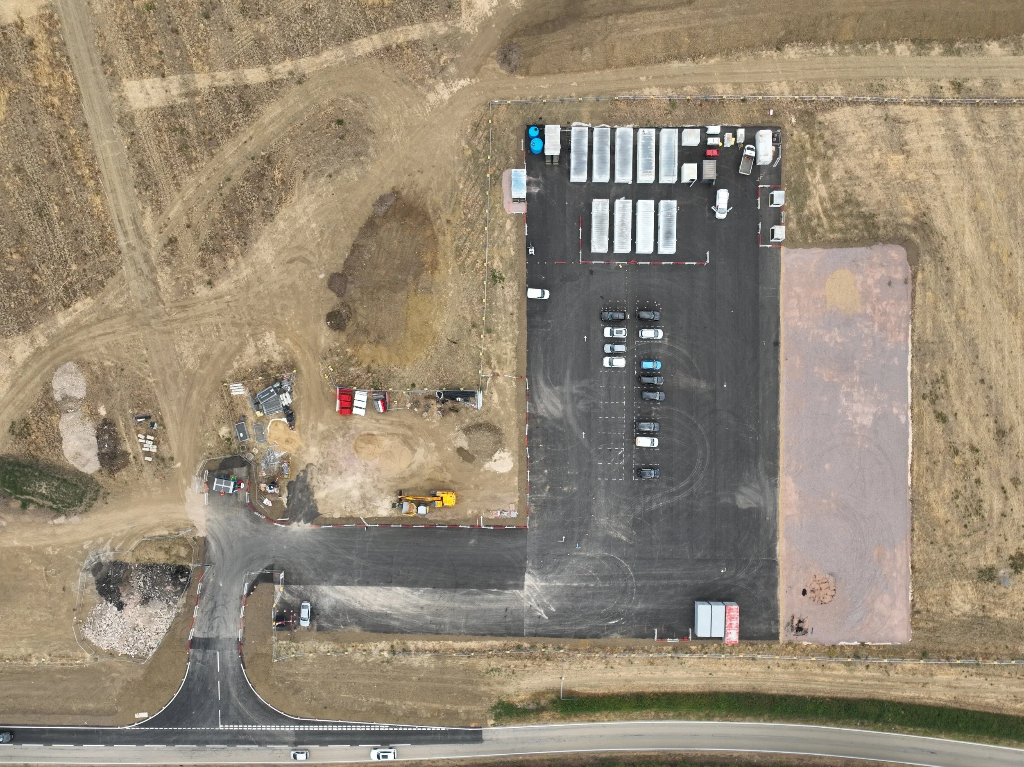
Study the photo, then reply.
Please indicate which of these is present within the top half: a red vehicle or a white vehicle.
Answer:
white vehicle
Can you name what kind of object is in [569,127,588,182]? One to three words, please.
building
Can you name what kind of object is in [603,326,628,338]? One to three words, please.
vehicle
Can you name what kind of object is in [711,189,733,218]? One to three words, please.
vehicle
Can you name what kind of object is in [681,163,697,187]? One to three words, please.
building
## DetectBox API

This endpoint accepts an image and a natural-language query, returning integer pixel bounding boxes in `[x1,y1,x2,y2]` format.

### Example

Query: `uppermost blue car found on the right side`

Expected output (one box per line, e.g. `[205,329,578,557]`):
[640,359,662,371]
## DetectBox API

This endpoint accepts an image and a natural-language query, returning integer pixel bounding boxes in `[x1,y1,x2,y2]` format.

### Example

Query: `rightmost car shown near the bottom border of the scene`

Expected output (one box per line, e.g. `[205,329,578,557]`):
[370,747,396,762]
